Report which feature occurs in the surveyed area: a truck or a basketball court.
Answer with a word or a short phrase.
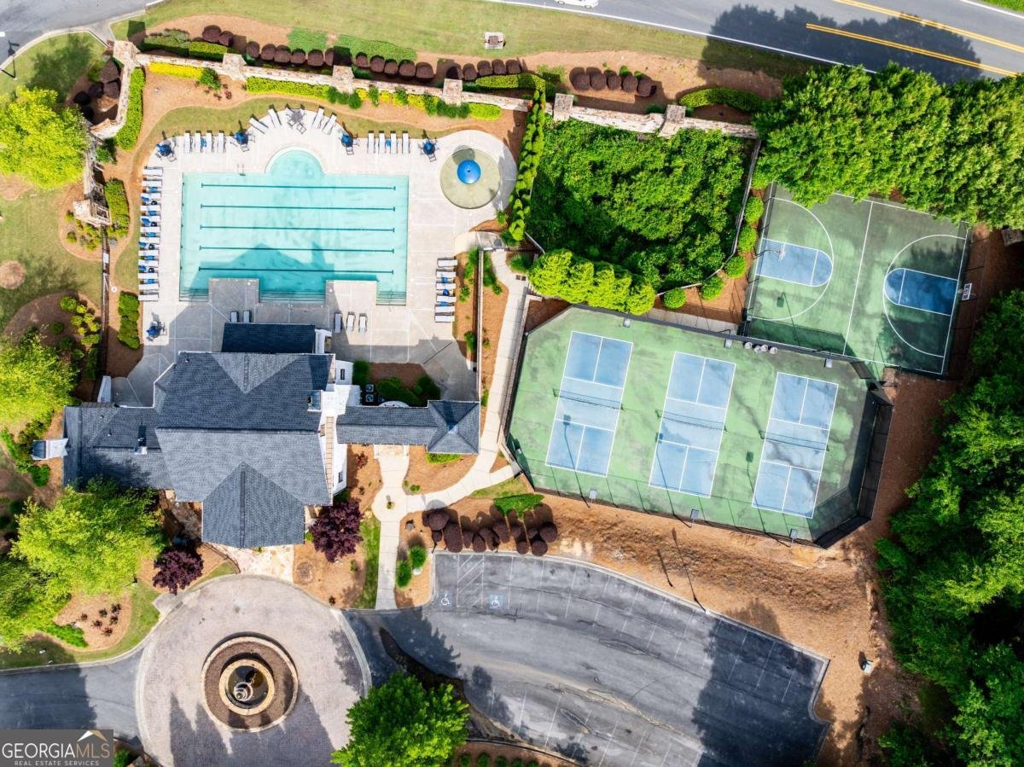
basketball court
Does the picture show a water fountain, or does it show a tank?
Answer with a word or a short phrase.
water fountain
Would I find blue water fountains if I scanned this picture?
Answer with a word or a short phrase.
Yes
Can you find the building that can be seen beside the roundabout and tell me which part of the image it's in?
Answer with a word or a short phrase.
left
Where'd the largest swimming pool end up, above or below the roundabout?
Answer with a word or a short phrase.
above it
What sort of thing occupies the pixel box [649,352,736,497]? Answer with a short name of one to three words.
sports court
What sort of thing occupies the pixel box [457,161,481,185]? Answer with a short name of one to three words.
fountain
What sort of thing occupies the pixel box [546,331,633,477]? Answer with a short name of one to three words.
sports court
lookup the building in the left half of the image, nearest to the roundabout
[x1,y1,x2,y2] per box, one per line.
[32,322,480,553]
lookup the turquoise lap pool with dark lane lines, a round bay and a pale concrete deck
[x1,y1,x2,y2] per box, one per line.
[111,108,517,406]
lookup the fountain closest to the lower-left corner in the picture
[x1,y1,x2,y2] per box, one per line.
[218,658,276,716]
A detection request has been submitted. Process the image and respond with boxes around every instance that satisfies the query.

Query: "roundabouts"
[136,575,371,767]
